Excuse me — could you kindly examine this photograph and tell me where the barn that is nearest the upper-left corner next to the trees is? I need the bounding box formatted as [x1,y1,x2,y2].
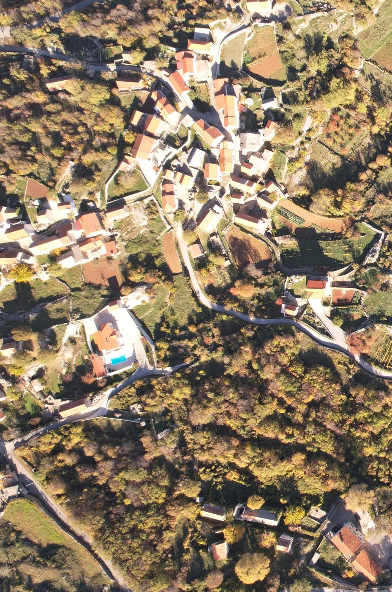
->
[45,75,79,93]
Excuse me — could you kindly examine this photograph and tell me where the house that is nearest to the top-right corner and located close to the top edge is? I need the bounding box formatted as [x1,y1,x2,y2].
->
[245,0,272,13]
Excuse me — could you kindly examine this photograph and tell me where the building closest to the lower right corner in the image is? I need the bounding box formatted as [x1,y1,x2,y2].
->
[353,549,385,583]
